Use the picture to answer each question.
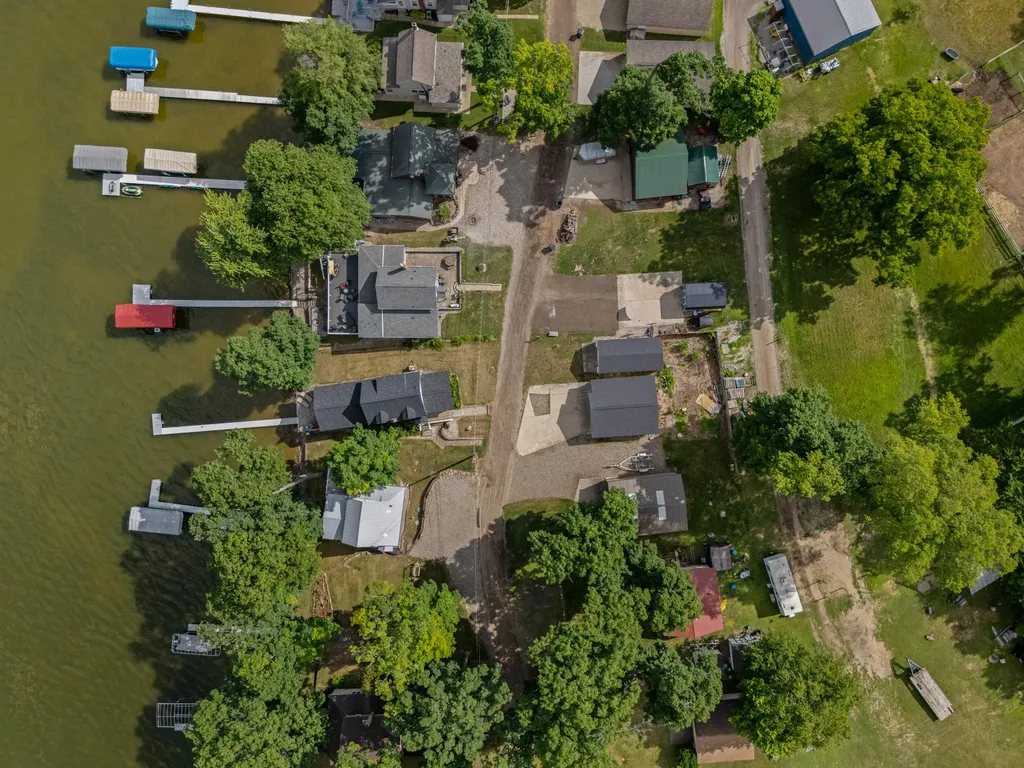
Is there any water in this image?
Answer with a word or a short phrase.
Yes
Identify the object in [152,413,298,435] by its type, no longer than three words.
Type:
pier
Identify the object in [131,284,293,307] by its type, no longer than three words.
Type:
pier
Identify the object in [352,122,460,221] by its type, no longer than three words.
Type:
house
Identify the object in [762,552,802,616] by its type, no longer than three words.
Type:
camper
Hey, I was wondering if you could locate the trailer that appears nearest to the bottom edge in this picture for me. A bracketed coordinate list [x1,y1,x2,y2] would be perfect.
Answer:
[904,655,955,720]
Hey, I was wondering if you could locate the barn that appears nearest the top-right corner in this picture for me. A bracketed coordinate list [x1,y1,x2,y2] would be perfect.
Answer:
[783,0,881,65]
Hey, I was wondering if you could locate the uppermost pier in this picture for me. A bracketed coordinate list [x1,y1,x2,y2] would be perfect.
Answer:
[170,0,330,24]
